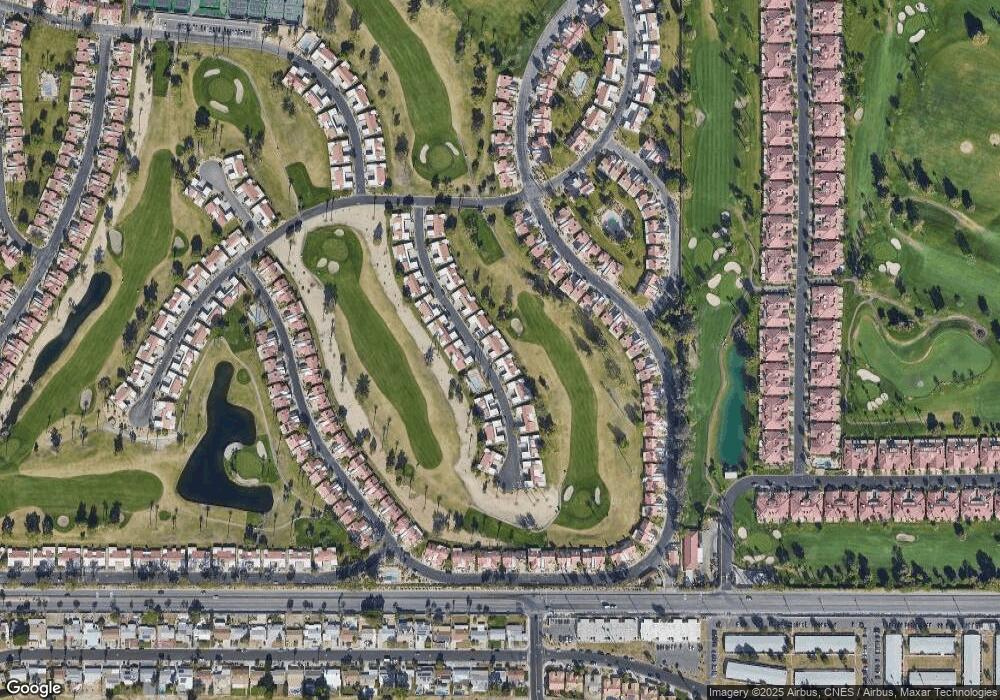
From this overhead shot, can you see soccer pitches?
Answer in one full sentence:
No, there's no soccer pitch here.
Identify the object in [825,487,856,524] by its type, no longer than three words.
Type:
house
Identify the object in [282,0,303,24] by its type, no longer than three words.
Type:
tennis court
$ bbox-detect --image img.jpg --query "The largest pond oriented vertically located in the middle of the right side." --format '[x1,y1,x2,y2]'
[720,340,748,466]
